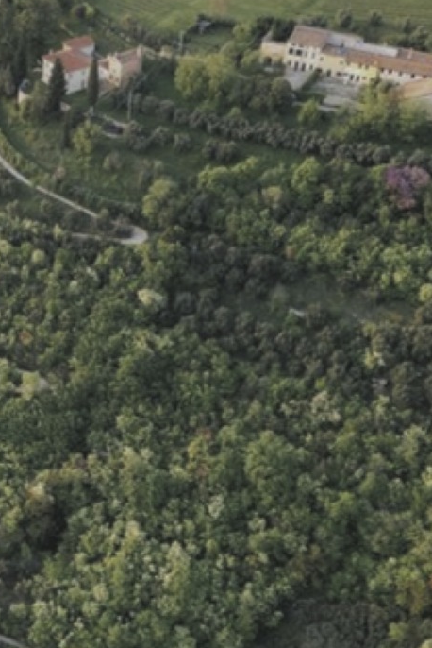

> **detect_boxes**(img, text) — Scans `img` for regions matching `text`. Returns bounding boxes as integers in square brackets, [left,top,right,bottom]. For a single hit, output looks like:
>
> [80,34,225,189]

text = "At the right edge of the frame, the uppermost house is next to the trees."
[263,18,432,84]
